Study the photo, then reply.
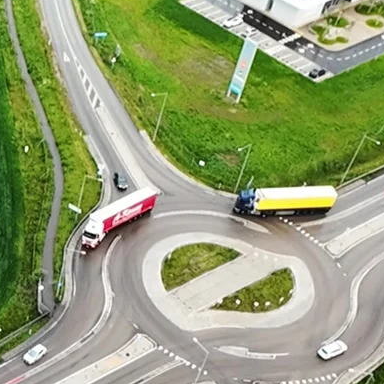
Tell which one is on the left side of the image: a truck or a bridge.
truck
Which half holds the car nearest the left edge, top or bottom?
bottom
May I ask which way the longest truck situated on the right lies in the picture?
from left to right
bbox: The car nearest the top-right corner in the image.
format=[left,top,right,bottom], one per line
[308,67,327,79]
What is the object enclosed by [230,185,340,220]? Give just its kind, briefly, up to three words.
truck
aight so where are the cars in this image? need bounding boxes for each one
[308,67,327,79]
[224,16,243,27]
[242,24,262,37]
[20,342,51,365]
[317,339,351,357]
[113,172,129,189]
